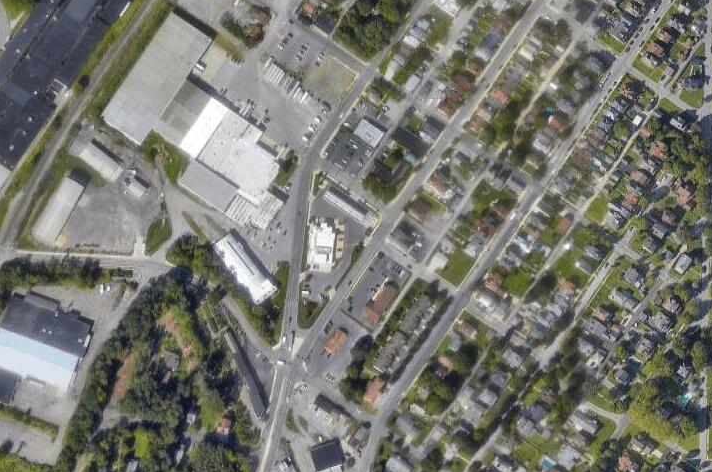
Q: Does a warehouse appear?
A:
Yes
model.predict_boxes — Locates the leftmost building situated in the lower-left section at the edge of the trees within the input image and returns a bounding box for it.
[0,292,94,401]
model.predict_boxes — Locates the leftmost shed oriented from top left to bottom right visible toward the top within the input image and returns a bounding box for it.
[81,144,122,182]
